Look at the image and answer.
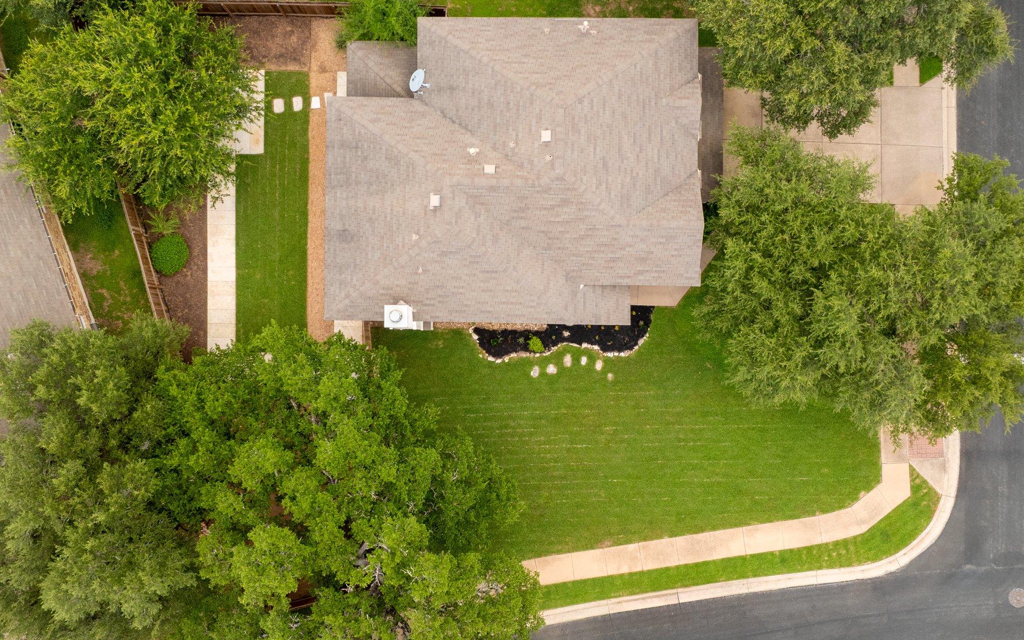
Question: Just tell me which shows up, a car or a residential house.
residential house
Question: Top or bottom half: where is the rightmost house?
top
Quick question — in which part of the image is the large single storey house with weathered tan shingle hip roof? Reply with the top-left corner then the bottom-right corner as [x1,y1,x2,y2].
[322,15,726,330]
